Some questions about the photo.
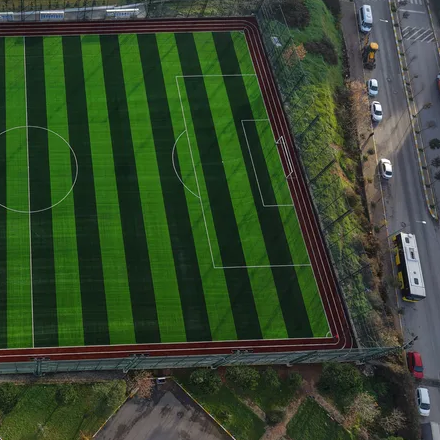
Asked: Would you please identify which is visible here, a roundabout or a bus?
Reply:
bus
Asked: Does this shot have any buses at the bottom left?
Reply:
No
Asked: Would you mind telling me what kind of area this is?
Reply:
sports ground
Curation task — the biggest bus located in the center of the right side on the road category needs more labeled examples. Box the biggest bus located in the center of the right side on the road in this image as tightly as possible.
[390,226,435,296]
